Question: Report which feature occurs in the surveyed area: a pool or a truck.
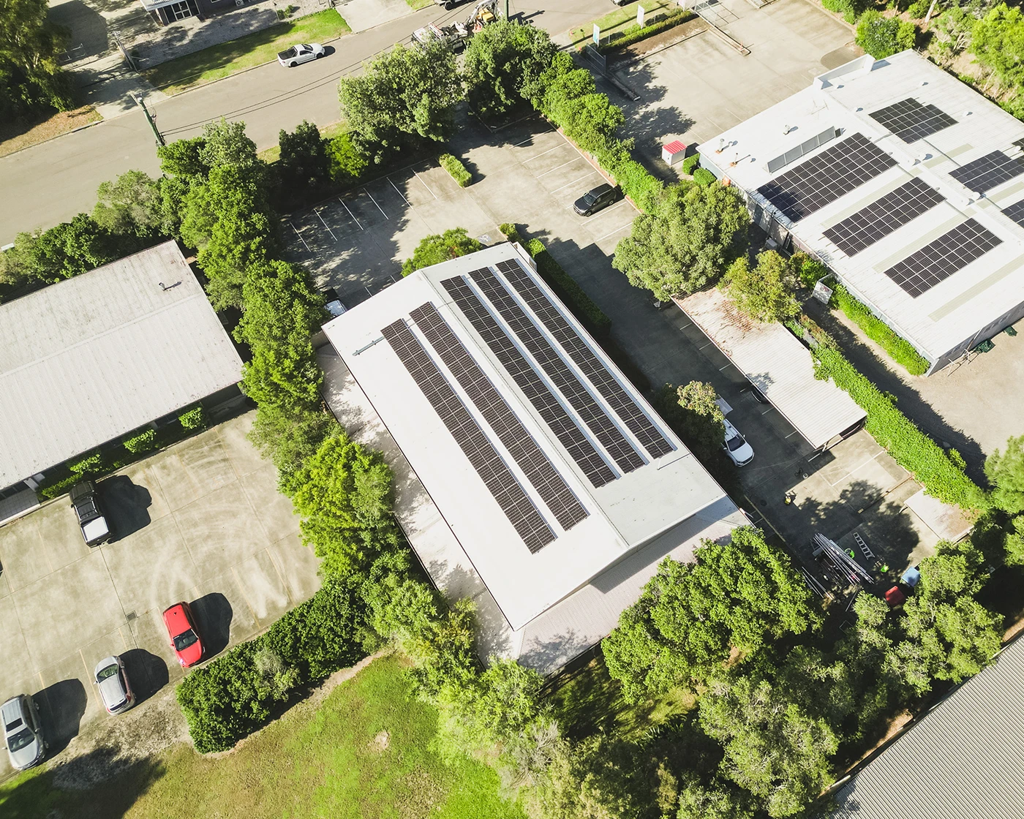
truck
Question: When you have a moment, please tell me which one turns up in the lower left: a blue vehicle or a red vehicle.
red vehicle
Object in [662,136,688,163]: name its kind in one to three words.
shed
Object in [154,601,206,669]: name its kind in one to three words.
car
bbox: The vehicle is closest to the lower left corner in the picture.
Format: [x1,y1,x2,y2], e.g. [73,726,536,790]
[0,691,46,773]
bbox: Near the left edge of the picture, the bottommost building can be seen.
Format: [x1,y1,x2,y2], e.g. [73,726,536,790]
[0,239,250,501]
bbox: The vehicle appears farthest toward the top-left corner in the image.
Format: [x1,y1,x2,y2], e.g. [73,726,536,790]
[278,43,326,67]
